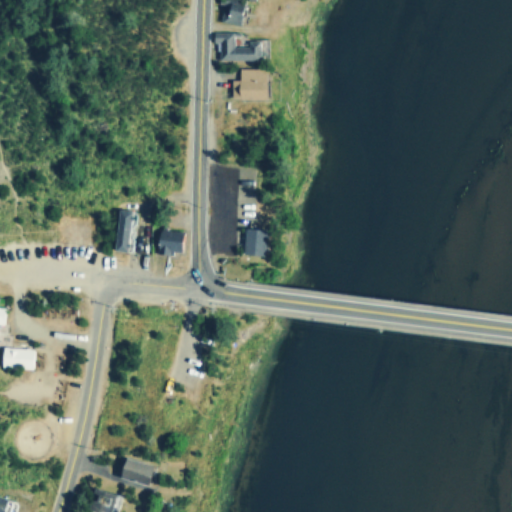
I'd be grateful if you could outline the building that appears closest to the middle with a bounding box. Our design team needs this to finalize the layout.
[246,229,268,257]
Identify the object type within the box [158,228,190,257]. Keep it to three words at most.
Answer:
house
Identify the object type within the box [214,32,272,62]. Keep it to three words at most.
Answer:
house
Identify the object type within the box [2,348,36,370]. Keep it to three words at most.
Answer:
building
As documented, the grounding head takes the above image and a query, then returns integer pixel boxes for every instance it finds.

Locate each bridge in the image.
[277,286,512,345]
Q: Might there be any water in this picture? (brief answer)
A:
Yes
